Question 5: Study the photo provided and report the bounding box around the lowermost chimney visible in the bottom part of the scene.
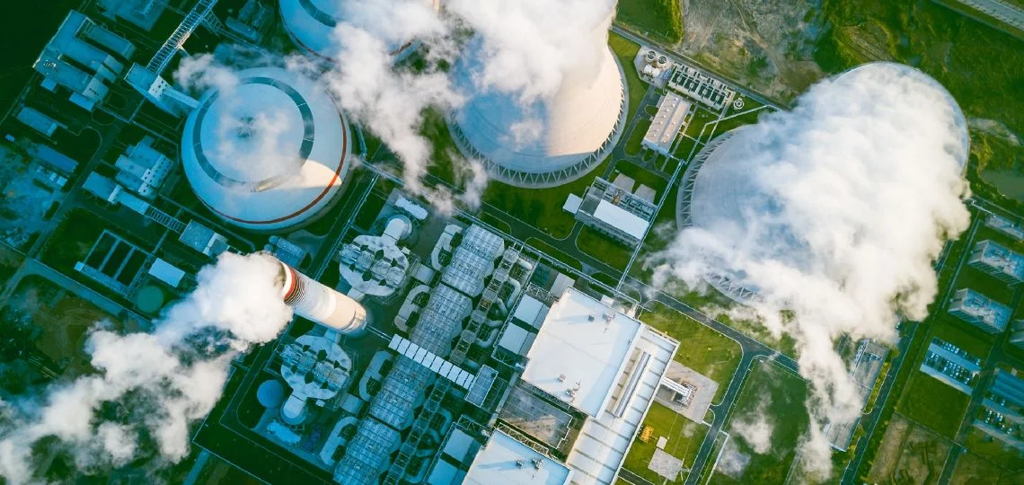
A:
[261,262,371,333]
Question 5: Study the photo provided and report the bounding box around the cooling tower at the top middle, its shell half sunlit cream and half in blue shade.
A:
[445,0,628,187]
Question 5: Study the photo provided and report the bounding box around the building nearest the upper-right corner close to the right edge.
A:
[977,207,1024,248]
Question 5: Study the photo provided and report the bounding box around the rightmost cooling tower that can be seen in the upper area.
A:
[676,61,973,306]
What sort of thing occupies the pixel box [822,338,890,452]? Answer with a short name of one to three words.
building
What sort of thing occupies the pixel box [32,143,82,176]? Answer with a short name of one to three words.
shed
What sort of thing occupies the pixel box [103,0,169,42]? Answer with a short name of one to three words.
house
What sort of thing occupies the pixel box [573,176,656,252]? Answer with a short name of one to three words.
building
